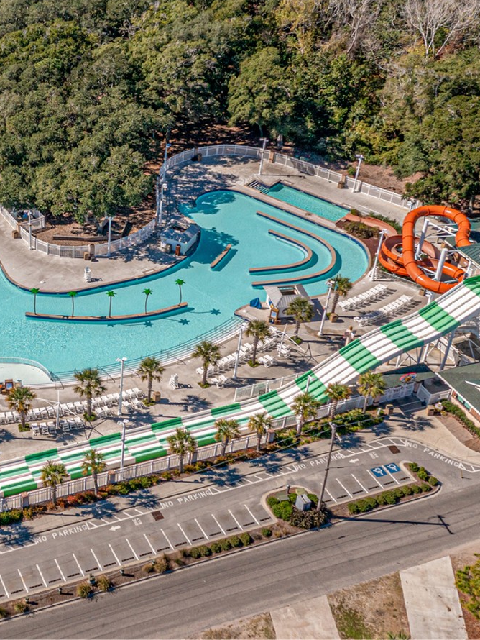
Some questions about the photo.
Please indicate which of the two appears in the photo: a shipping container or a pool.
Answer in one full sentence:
I can see a pool in this picture.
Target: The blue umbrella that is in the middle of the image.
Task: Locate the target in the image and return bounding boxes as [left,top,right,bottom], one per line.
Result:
[250,291,263,310]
